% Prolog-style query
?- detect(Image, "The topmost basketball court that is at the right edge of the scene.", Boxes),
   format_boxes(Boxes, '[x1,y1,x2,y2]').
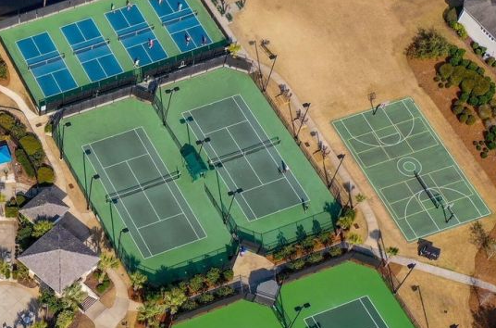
[330,94,496,242]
